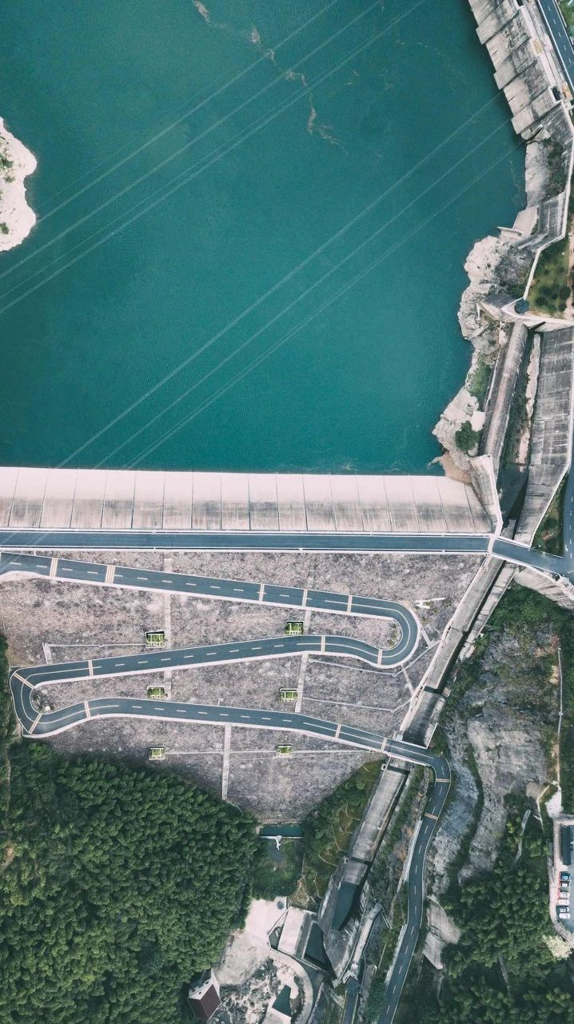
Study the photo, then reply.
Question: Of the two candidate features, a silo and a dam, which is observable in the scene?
dam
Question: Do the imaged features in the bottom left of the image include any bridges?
No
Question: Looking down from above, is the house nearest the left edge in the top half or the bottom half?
bottom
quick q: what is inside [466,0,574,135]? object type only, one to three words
dam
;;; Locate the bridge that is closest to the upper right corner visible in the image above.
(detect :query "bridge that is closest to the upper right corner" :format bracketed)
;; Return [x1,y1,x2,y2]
[478,293,574,333]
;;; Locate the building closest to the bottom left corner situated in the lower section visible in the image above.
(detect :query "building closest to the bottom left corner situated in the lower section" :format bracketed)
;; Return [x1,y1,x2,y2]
[188,974,223,1020]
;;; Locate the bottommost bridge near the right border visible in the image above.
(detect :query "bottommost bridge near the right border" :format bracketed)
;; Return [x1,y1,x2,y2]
[487,536,574,602]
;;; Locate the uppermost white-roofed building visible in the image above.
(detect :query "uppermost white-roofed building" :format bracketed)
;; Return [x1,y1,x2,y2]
[277,900,330,975]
